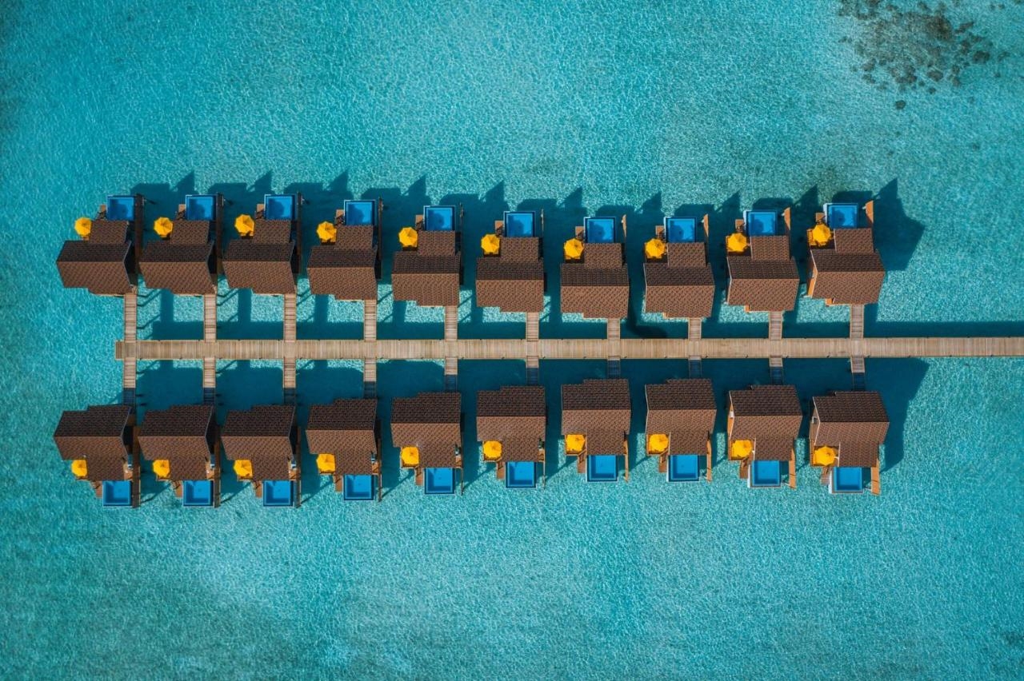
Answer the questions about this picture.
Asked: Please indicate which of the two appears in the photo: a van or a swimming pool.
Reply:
swimming pool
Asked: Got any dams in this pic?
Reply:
No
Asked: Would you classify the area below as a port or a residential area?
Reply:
residential area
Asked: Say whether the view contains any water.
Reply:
Yes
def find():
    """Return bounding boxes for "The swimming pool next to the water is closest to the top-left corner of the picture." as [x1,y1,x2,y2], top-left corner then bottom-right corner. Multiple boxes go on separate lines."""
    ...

[105,195,137,224]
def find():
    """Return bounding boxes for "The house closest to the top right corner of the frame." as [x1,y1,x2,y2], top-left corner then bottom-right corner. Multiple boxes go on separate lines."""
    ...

[807,201,885,305]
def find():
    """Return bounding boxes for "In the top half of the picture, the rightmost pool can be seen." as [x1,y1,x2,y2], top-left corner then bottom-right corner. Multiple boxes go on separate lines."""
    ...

[824,204,859,234]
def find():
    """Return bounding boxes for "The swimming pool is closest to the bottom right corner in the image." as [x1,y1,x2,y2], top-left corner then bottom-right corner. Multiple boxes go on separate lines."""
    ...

[830,464,865,495]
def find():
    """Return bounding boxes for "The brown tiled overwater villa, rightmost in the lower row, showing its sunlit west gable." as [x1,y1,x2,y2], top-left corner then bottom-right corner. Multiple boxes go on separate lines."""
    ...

[810,391,889,497]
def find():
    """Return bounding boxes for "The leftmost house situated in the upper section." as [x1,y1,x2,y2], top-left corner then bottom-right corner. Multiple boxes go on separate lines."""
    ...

[56,191,149,295]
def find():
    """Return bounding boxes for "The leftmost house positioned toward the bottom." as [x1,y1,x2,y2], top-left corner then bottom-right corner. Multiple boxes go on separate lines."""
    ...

[53,405,144,511]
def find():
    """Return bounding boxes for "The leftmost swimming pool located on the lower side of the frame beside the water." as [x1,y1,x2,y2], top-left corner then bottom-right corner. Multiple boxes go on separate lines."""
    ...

[99,478,131,508]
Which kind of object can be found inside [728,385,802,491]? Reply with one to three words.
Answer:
house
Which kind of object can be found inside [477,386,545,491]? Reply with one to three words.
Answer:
house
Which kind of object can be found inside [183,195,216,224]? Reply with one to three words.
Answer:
swimming pool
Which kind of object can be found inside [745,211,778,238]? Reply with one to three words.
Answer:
swimming pool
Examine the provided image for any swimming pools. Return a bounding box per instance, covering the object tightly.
[504,212,534,238]
[424,206,455,231]
[341,471,374,502]
[664,218,697,246]
[423,468,455,496]
[180,478,213,508]
[824,204,859,234]
[667,452,700,483]
[260,478,294,508]
[584,218,615,243]
[183,195,216,224]
[263,194,296,224]
[343,200,375,230]
[749,458,782,489]
[505,461,536,489]
[586,455,618,483]
[105,195,137,224]
[745,211,778,238]
[99,478,131,508]
[830,464,865,495]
